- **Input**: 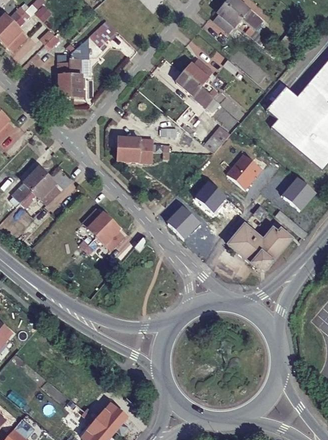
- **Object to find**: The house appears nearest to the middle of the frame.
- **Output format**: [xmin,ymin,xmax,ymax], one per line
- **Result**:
[167,206,201,242]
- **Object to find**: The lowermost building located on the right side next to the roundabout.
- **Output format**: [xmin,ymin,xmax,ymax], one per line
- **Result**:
[226,223,292,272]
